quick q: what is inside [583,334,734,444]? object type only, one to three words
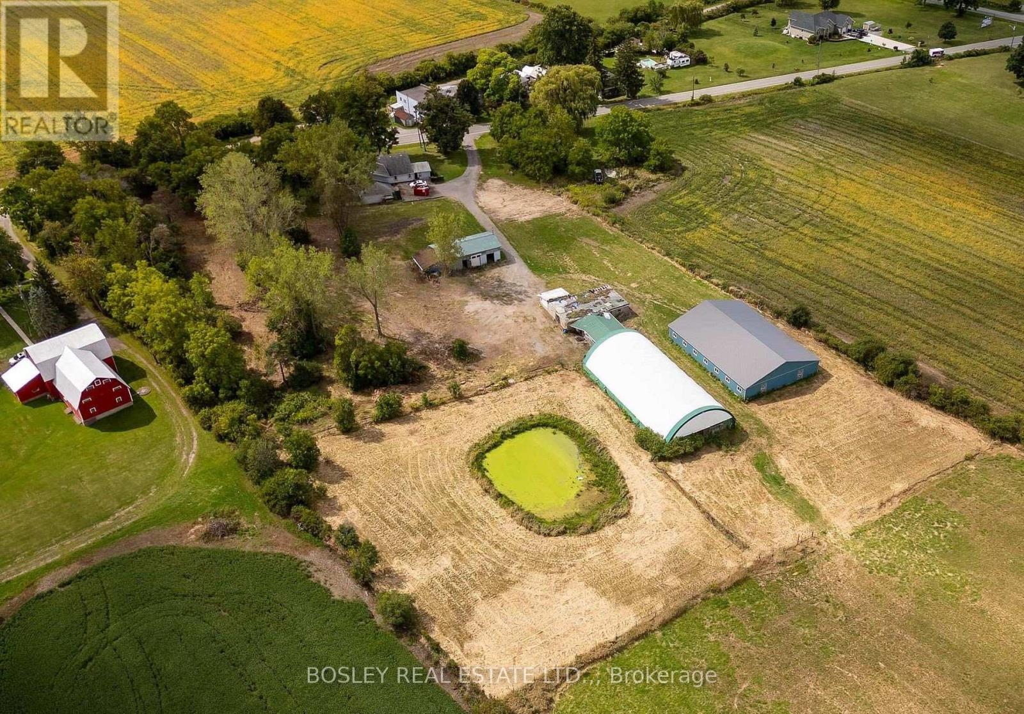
barn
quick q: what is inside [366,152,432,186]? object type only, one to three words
house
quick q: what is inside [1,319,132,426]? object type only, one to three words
barn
